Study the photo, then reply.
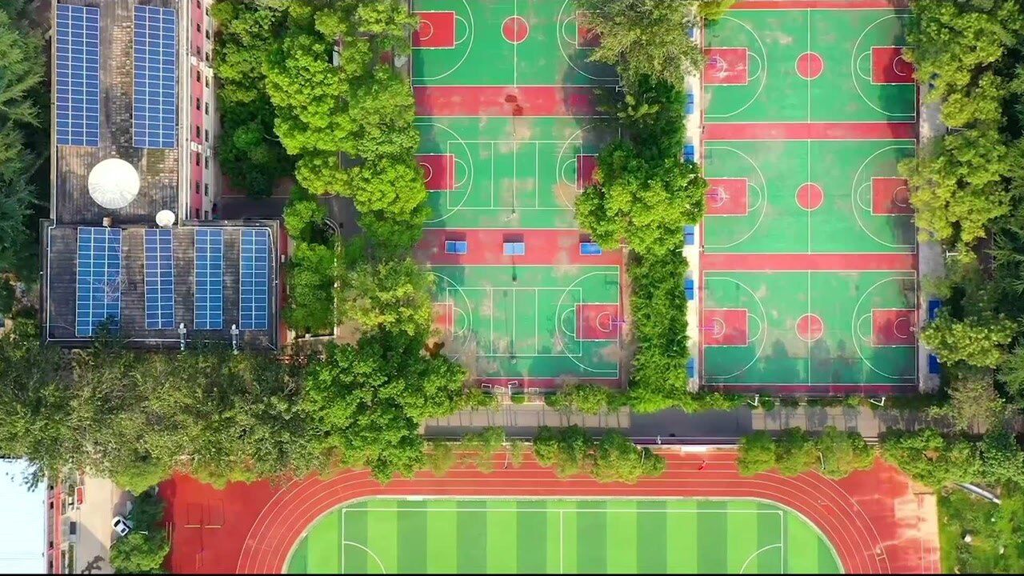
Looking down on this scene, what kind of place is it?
sports ground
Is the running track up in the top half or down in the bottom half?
bottom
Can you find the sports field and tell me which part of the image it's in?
bottom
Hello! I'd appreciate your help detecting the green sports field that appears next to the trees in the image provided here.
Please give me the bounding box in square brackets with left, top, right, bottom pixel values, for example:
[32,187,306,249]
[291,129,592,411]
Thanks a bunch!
[287,500,842,576]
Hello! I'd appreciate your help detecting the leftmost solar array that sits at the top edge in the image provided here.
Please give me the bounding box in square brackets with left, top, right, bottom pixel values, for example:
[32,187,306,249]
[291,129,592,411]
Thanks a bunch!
[56,5,100,147]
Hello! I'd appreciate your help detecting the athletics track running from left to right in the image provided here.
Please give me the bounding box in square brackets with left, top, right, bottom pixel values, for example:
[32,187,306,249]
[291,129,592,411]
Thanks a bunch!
[162,452,942,576]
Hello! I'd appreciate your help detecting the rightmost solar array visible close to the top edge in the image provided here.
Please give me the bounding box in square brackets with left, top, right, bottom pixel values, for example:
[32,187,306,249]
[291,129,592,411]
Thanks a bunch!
[133,5,175,149]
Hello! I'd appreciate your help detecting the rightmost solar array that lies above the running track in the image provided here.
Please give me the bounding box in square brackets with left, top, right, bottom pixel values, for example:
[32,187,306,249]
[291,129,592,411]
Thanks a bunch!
[240,230,268,330]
